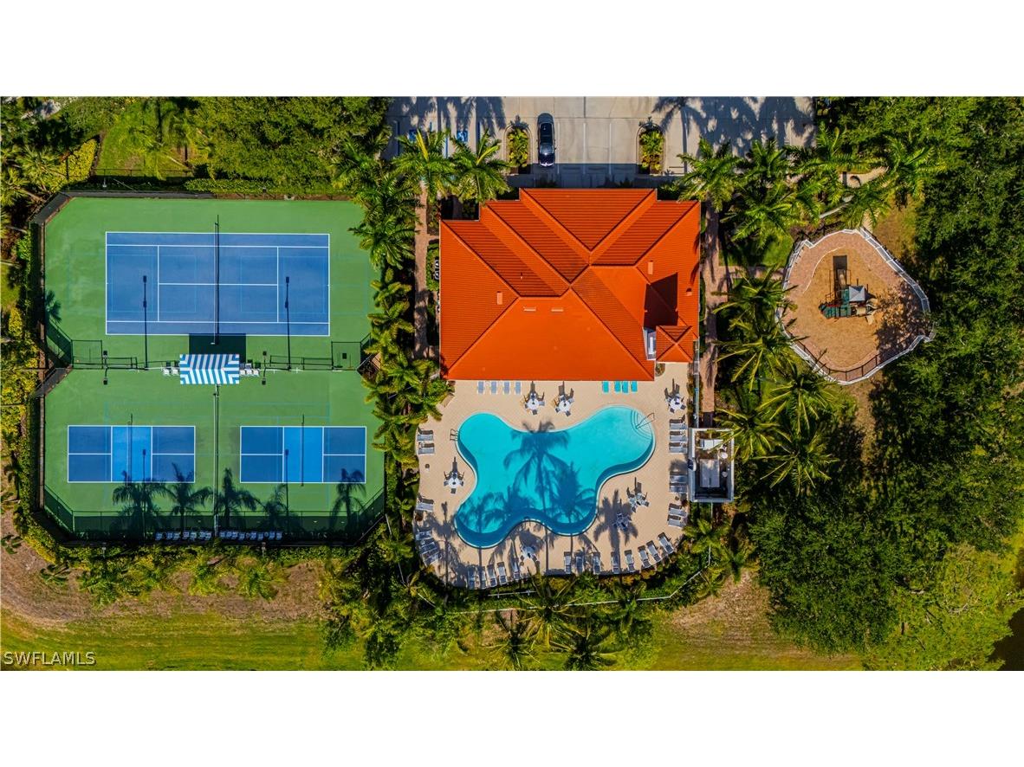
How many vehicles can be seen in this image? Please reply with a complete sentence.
Only 1 vehicle is visible.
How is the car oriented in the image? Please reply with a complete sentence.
The car has been laid out vertically relative to the frame.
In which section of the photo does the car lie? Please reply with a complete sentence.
The car appears toward the top of the photo.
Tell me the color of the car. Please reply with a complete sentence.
In this view, the car is black.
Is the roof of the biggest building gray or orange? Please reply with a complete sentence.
In this view, the roof of the biggest building is orange.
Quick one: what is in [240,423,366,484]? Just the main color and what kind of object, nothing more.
blue sports court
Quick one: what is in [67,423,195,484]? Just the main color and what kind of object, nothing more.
blue sports court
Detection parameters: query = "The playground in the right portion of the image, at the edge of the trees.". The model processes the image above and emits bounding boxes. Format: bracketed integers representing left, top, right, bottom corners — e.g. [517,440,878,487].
[784,231,930,381]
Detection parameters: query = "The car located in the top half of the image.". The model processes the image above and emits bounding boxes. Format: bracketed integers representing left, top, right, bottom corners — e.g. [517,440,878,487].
[535,113,556,166]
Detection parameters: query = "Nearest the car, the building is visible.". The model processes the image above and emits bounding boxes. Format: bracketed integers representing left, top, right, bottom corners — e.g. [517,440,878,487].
[439,187,701,382]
